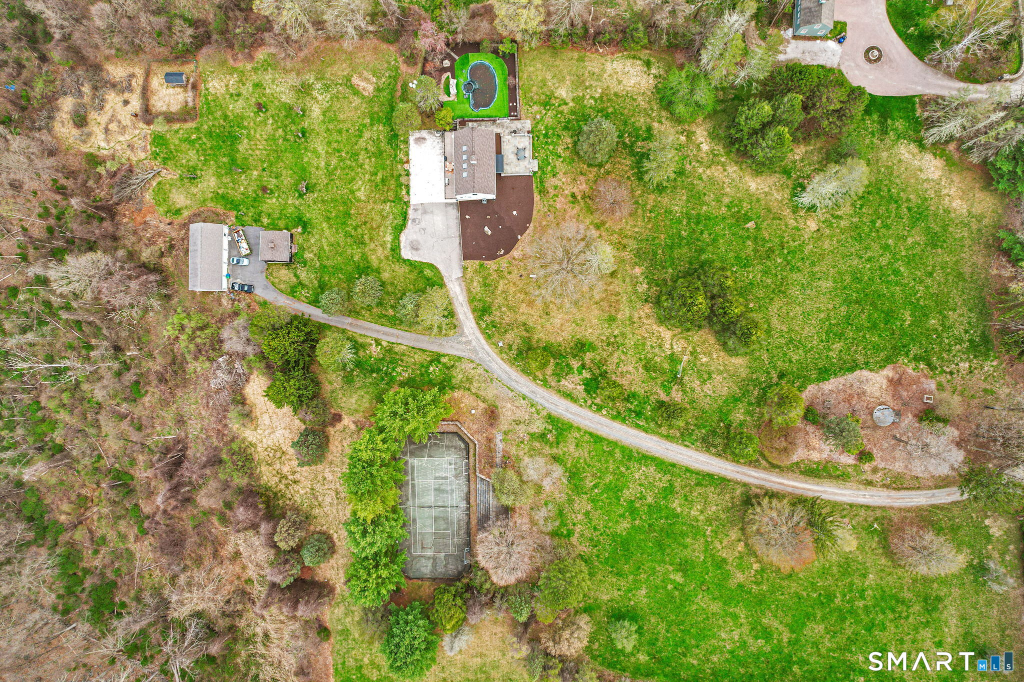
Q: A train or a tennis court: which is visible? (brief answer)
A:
tennis court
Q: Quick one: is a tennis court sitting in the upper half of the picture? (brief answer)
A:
No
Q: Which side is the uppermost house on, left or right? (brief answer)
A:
right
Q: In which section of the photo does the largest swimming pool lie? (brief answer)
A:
top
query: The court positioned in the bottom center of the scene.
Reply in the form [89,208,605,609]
[397,433,470,580]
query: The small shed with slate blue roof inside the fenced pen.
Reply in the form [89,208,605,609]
[163,72,189,92]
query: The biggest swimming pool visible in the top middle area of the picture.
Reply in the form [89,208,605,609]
[467,60,498,112]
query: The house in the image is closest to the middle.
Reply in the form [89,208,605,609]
[453,126,504,199]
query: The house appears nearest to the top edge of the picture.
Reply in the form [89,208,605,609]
[790,0,834,37]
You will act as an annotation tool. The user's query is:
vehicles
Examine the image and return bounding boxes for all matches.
[229,256,249,266]
[229,282,254,292]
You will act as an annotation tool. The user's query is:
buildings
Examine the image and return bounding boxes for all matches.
[453,126,504,199]
[163,72,189,92]
[189,221,228,290]
[790,0,834,37]
[260,230,294,263]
